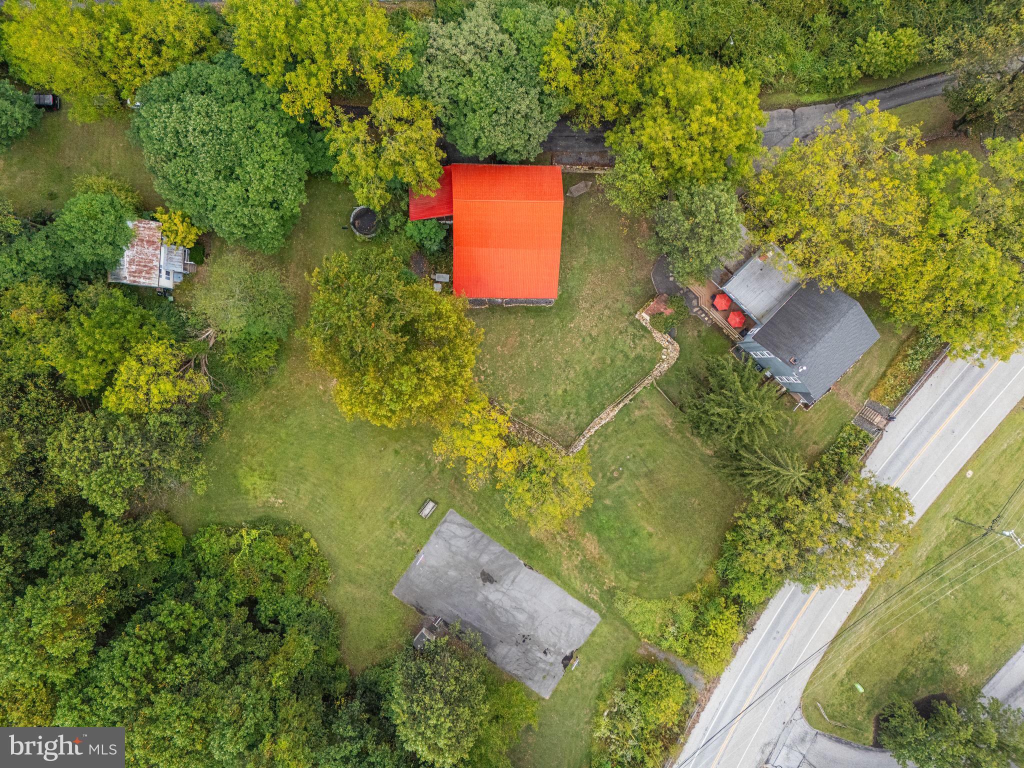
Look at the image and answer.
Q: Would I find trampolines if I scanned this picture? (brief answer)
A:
Yes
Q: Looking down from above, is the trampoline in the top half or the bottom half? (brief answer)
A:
top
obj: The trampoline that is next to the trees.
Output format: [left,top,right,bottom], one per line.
[347,207,379,235]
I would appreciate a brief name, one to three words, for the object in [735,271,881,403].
house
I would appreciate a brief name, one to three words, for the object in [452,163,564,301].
barn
